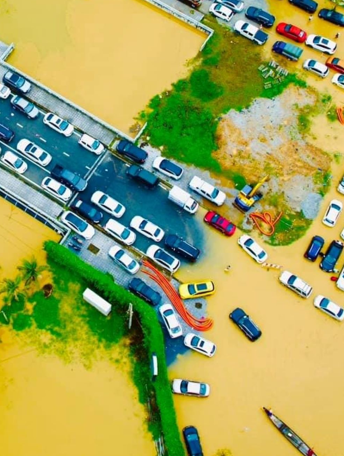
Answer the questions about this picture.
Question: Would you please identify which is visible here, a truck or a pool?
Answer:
truck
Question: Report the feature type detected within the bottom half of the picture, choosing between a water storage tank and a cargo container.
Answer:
cargo container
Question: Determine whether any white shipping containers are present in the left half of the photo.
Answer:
Yes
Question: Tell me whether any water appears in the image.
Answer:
Yes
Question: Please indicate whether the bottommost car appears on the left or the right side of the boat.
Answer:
on its left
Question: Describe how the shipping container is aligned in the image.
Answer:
on a diagonal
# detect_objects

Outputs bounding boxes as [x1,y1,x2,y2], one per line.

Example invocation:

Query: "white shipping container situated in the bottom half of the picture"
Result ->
[84,288,111,317]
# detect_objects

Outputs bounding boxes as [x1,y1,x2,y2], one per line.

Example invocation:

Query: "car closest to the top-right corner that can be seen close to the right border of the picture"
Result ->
[318,10,344,29]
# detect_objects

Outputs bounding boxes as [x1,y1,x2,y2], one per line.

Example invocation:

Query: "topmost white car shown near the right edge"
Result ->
[305,36,338,56]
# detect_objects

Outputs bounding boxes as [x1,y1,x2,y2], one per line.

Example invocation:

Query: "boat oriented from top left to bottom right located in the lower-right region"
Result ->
[263,407,317,456]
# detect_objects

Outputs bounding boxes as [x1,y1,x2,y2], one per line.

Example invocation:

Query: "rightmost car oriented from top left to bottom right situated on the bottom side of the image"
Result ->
[313,296,344,324]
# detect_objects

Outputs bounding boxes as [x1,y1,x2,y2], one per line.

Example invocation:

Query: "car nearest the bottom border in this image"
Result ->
[182,427,203,456]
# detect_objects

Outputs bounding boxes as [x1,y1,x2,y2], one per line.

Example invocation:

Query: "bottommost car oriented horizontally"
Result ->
[173,378,210,399]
